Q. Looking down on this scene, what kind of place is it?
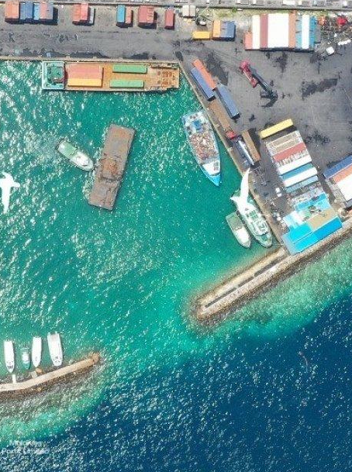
port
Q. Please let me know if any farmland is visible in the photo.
No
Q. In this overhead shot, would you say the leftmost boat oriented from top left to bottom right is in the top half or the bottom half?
top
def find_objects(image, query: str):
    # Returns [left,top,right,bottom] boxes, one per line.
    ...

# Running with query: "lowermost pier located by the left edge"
[0,355,94,389]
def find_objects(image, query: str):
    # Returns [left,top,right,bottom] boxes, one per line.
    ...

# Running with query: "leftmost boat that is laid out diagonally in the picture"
[55,139,92,169]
